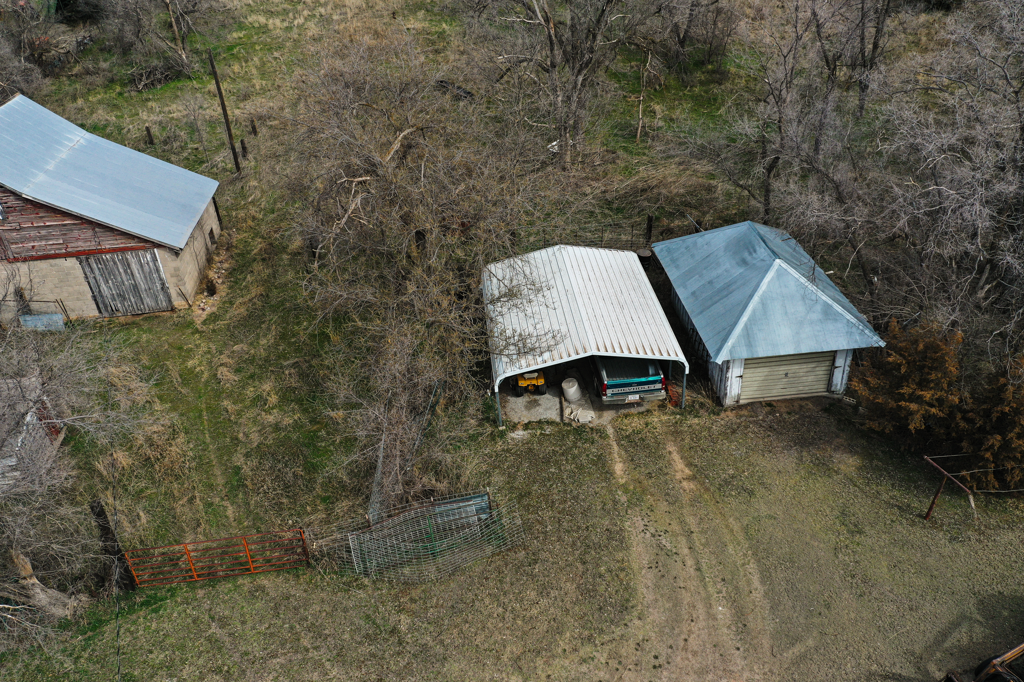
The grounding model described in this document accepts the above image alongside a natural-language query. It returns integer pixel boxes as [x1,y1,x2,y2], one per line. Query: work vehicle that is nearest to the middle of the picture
[514,370,547,397]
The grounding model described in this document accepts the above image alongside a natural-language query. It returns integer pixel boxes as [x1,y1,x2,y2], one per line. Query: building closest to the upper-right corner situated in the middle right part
[652,218,892,408]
